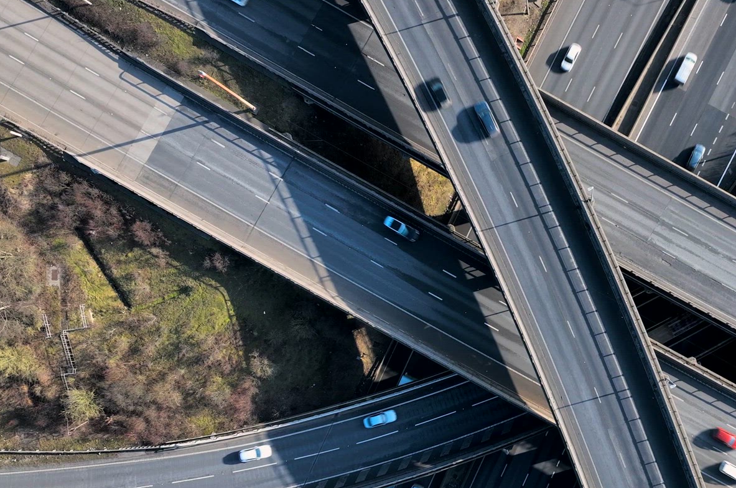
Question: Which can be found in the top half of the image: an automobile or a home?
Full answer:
Visible in the top half of the image is an automobile.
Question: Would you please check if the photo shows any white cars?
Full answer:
Yes, looking at the shot, I can spot a white car.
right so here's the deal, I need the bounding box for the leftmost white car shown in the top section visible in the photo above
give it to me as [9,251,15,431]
[560,41,582,74]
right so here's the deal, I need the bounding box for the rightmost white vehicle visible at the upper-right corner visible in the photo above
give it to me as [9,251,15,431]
[673,51,698,86]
